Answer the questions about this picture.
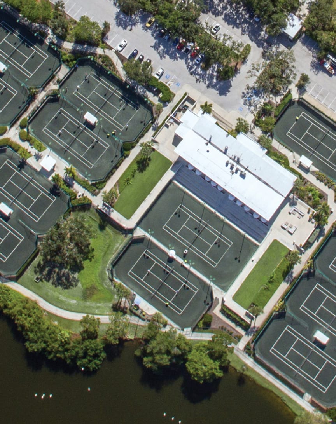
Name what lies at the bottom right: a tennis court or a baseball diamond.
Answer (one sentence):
It is a tennis court that can be seen at the bottom right.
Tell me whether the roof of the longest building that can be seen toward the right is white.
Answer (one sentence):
Yes, the roof of the longest building that can be seen toward the right is white.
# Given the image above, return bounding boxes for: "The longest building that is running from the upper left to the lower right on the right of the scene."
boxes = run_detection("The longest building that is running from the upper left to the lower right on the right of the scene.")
[174,109,297,221]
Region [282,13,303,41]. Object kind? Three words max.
shed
